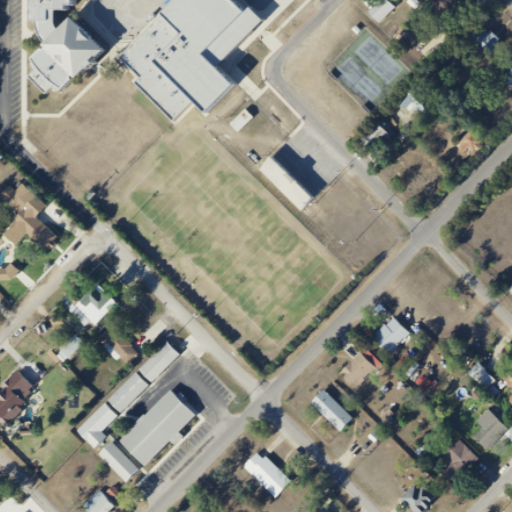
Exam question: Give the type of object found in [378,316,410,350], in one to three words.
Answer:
house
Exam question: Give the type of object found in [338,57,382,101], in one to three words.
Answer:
tennis court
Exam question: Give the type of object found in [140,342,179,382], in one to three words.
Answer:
shed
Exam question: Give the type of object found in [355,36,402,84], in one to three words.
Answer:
tennis court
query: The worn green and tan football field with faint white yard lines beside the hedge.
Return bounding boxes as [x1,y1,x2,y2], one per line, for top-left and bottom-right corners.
[127,130,342,346]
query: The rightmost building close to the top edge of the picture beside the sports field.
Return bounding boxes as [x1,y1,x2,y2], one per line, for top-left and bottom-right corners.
[116,0,261,120]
